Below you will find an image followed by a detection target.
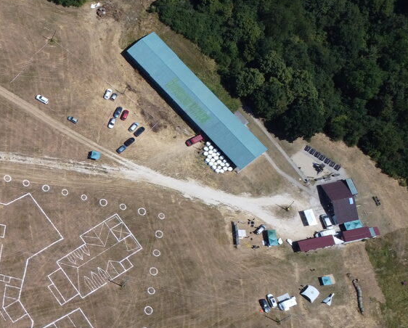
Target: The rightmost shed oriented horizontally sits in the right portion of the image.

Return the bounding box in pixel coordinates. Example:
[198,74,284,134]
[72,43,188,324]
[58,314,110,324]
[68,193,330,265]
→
[339,226,381,243]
